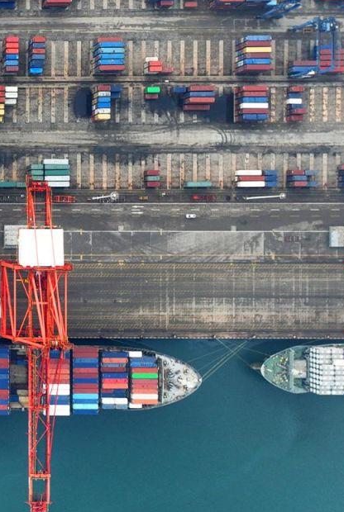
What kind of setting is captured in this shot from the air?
port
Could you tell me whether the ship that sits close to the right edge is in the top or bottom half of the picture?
bottom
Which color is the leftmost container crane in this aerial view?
red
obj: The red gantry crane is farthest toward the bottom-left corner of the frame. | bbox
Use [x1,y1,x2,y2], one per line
[0,181,74,512]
